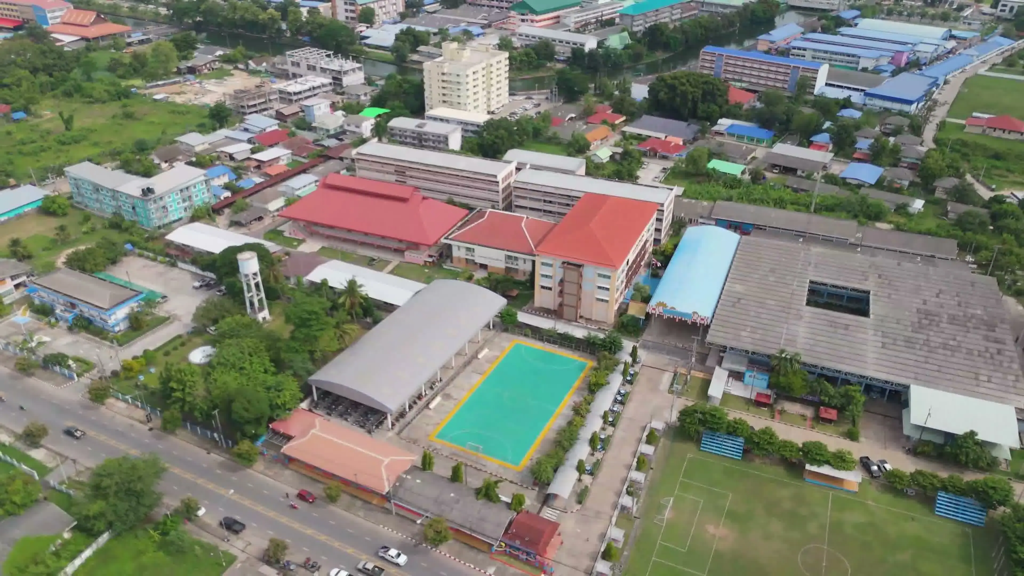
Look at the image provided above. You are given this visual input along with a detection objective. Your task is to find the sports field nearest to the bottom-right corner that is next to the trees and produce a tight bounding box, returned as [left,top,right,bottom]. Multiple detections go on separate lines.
[615,427,1024,576]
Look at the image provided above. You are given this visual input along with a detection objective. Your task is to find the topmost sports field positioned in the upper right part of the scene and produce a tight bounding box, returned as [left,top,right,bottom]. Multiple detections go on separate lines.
[948,74,1024,119]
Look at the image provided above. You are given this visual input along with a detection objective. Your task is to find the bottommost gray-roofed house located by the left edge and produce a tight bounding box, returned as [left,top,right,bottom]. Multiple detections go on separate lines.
[0,491,78,568]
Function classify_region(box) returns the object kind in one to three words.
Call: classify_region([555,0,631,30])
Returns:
building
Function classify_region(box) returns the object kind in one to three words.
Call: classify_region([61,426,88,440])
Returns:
vehicle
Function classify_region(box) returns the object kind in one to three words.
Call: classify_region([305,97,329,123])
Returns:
house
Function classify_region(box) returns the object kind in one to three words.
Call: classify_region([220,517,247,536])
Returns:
car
